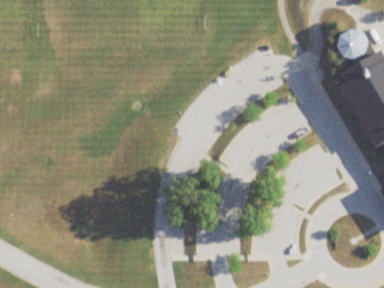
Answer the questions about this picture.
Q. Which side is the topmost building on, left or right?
right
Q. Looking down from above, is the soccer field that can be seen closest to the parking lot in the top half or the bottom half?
top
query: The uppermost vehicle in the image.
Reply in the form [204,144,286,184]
[369,26,382,44]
